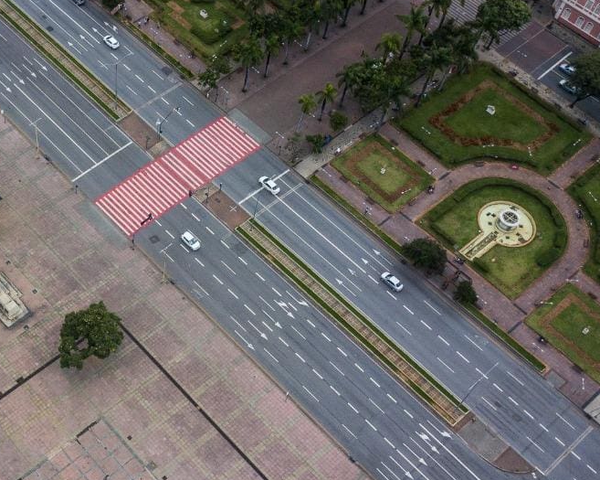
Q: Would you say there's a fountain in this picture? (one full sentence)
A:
Yes, the frame does contain a fountain.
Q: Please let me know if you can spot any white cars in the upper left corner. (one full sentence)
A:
Yes, the scene does show a white car in the upper left corner.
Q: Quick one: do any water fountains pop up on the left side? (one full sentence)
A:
No, there is no water fountain on the left side.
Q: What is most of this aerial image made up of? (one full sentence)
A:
The scene is dominated by paved ground.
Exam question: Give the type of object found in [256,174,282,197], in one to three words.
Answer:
car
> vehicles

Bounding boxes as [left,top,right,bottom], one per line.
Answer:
[74,0,88,6]
[101,33,122,50]
[554,59,579,77]
[256,174,282,197]
[377,267,407,294]
[178,229,202,251]
[557,77,584,95]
